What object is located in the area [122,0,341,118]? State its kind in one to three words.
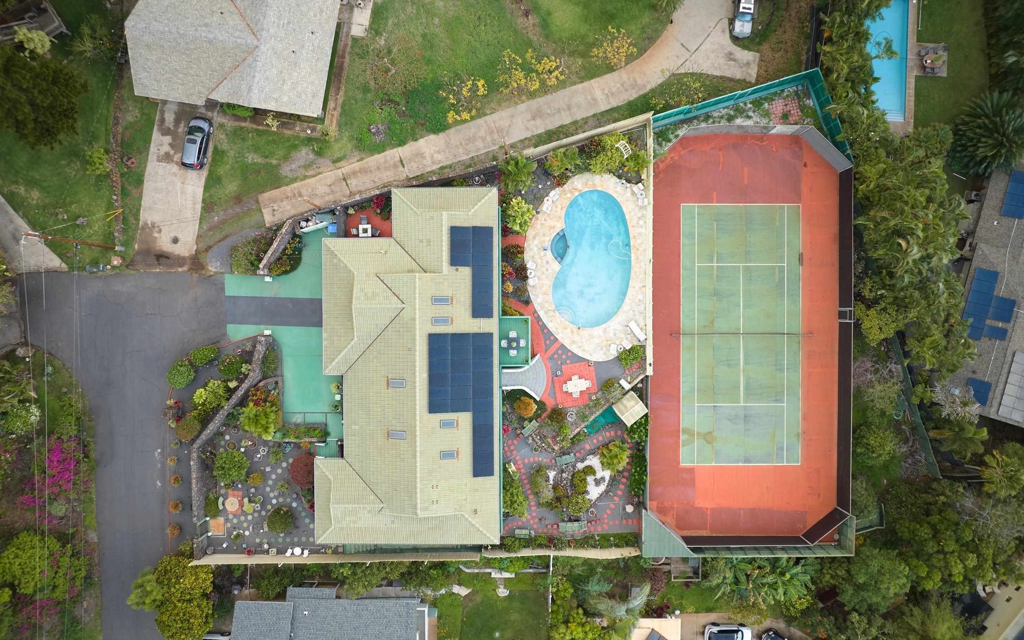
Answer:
house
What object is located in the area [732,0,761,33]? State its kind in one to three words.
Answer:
car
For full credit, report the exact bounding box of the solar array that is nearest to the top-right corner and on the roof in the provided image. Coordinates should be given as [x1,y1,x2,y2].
[1001,170,1024,219]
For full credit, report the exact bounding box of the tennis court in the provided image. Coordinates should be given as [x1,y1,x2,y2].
[646,132,839,544]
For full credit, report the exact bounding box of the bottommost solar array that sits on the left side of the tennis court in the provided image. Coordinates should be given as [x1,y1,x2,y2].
[429,332,493,478]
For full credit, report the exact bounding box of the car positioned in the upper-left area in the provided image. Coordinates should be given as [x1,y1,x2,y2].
[178,116,209,169]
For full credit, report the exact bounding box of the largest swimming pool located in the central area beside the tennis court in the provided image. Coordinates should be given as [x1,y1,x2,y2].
[524,174,646,361]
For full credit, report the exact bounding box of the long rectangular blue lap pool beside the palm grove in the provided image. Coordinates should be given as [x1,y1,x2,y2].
[855,0,917,131]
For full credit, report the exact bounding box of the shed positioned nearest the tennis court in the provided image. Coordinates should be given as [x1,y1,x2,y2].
[643,511,691,556]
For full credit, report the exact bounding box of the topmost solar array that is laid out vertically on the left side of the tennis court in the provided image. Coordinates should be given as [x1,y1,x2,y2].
[451,226,493,318]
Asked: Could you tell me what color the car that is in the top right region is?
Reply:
white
